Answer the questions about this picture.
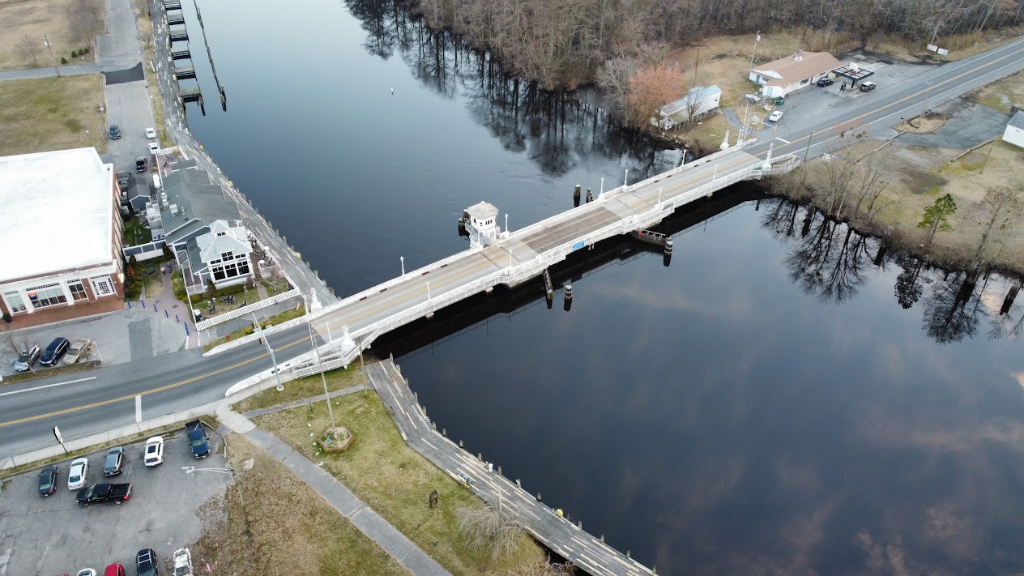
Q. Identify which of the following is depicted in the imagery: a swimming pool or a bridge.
bridge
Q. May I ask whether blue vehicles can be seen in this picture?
Yes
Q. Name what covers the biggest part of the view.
water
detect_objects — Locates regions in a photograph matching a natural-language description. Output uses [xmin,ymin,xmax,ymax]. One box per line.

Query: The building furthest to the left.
[0,145,128,320]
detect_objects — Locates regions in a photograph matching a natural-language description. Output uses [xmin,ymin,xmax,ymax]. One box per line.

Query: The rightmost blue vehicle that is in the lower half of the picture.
[185,415,209,457]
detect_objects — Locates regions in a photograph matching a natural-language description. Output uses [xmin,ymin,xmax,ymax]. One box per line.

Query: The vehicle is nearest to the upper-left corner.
[107,122,120,138]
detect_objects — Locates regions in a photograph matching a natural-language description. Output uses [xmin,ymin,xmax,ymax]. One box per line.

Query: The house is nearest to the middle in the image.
[457,203,511,252]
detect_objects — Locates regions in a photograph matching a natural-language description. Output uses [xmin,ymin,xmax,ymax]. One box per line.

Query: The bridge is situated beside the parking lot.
[202,135,797,400]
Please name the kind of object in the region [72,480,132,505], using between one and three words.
truck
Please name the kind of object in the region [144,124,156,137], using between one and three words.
vehicle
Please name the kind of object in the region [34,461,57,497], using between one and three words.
car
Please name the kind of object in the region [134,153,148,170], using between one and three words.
vehicle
